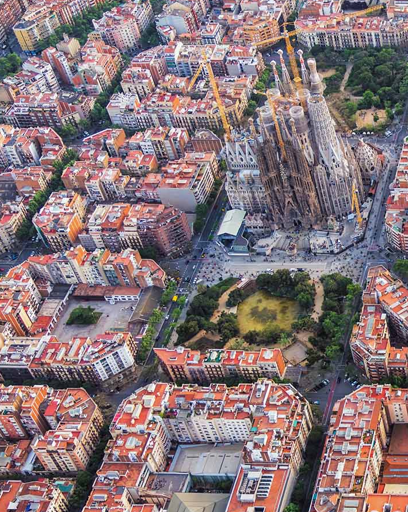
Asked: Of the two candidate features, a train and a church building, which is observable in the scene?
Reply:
church building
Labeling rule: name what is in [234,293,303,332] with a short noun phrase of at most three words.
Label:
pond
